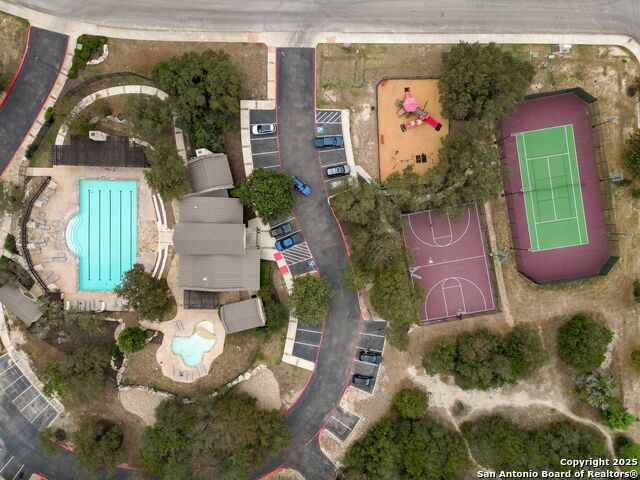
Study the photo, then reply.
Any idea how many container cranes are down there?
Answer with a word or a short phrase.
0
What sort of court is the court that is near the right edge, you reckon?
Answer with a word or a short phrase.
tennis court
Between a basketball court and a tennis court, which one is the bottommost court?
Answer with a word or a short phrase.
basketball court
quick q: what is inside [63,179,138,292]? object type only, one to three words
swimming pool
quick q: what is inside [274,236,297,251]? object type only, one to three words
car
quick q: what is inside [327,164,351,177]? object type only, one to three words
vehicle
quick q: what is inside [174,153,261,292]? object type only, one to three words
building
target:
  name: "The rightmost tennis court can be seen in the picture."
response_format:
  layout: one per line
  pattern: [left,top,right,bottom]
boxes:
[499,92,611,283]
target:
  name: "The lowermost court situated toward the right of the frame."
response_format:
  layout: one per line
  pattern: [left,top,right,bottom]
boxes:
[399,202,499,324]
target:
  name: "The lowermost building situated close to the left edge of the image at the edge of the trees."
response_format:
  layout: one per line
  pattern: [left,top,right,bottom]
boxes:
[0,282,46,328]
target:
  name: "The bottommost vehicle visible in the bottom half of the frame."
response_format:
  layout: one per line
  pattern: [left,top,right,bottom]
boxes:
[352,374,375,387]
